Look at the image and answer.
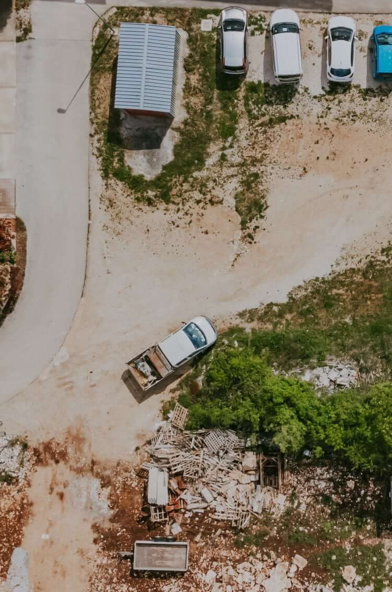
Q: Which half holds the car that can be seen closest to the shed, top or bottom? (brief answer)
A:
top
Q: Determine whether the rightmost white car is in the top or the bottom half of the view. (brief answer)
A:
top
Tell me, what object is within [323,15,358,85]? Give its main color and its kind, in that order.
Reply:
white car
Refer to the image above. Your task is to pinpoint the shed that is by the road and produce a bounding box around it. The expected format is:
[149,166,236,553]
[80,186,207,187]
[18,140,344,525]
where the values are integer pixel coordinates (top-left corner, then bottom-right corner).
[114,23,184,119]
